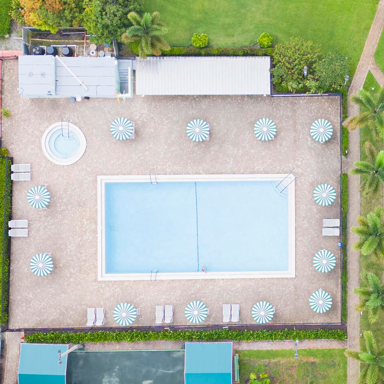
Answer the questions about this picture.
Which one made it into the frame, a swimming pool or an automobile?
swimming pool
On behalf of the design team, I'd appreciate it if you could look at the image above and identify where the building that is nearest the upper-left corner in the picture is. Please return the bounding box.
[16,55,136,99]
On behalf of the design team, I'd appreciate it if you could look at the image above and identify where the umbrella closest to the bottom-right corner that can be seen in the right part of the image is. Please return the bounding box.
[309,290,332,314]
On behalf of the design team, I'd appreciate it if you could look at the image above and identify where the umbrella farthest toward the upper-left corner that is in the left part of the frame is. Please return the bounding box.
[110,117,135,141]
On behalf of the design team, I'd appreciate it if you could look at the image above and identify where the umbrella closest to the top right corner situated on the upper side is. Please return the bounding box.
[310,119,334,143]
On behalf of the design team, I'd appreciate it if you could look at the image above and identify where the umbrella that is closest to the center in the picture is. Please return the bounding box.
[187,119,210,142]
